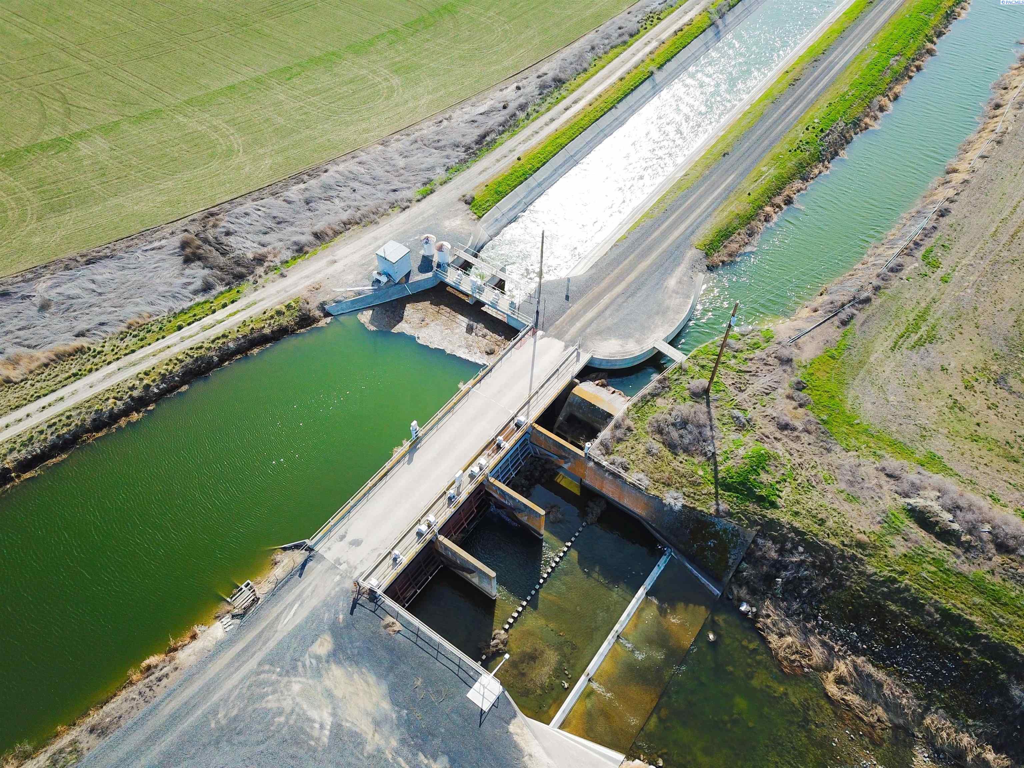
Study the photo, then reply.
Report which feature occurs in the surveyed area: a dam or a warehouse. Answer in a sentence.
This aerial view contains a dam.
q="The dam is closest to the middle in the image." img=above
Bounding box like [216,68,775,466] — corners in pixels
[551,380,627,454]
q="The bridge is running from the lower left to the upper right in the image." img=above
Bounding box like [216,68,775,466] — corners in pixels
[309,325,596,596]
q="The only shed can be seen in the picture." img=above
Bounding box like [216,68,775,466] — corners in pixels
[373,239,411,282]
